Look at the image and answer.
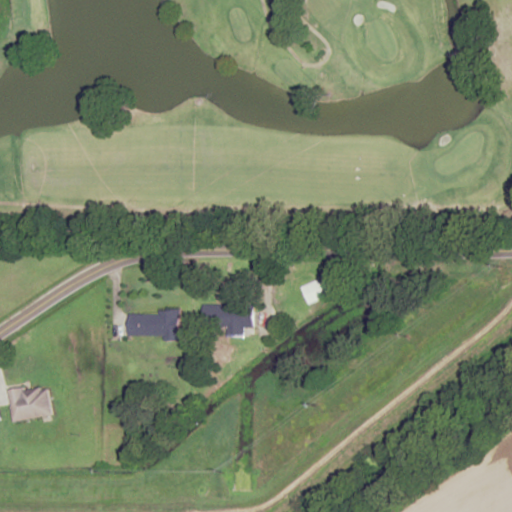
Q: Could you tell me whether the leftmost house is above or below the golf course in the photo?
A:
below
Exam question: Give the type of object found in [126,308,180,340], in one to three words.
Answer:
house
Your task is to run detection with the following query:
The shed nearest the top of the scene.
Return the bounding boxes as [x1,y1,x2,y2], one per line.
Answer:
[301,280,322,306]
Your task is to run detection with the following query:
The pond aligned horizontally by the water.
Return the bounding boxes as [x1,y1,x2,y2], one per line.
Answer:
[0,0,482,149]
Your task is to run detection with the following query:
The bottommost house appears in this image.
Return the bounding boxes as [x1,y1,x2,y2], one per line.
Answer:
[6,382,52,422]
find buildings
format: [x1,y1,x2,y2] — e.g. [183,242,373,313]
[301,280,322,306]
[6,382,52,422]
[202,304,256,338]
[126,308,180,340]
